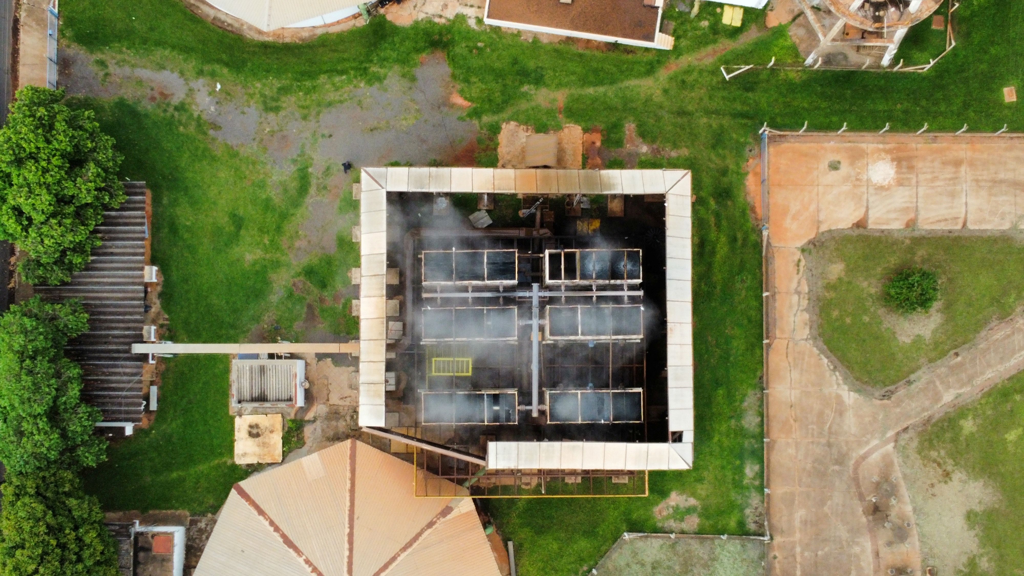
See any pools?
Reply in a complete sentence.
No, I can't see a single pool in this photo.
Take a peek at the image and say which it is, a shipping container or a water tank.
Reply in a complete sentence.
Looking from above, you can make out a water tank.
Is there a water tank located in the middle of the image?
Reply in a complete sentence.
Yes, there is a water tank in the middle of the image.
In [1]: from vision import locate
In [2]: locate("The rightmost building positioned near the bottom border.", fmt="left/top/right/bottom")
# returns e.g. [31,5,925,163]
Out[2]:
[193,440,500,576]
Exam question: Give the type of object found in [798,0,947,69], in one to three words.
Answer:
water tower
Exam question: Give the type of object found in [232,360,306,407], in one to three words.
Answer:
shed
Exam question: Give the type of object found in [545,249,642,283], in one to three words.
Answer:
water tank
